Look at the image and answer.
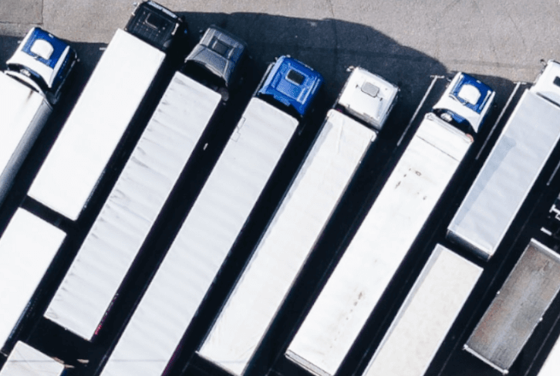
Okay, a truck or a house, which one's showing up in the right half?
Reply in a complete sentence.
It is a truck that can be seen in the right half.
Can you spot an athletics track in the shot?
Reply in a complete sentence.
No, the frame has no athletics track in it.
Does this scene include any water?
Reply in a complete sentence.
No, there's no water in this view.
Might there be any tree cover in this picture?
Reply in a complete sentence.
No, tree cover can't be seen anywhere here.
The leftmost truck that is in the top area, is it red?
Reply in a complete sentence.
No, the leftmost truck that is in the top area is white.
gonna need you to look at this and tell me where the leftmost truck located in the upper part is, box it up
[0,25,90,234]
